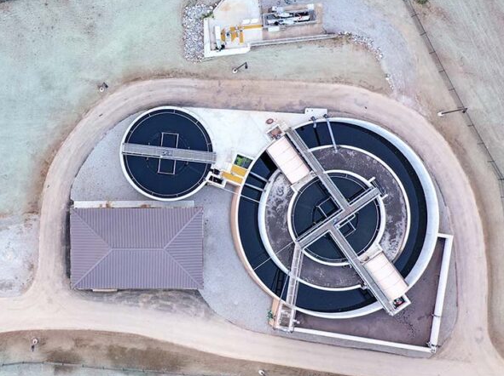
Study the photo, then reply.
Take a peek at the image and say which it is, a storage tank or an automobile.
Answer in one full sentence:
Of the two, only a storage tank appears.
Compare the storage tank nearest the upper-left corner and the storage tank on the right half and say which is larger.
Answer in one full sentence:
The larger object is the storage tank on the right half, with the storage tank nearest the upper-left corner being the smaller of the pair.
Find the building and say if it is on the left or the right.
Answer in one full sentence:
You can find the building on the left side of the picture.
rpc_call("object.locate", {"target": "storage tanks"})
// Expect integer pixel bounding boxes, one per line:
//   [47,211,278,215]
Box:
[223,113,438,331]
[119,106,218,200]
